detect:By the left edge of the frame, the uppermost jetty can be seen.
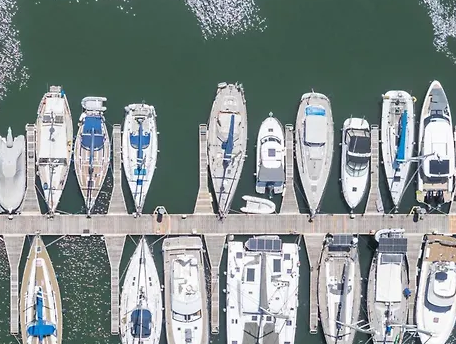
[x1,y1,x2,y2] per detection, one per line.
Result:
[21,124,40,214]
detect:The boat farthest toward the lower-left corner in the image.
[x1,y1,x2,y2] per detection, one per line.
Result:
[15,232,66,344]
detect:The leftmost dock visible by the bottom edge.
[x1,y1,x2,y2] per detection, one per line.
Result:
[3,234,26,336]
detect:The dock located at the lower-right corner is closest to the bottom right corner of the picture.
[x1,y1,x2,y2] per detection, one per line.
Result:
[403,234,425,336]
